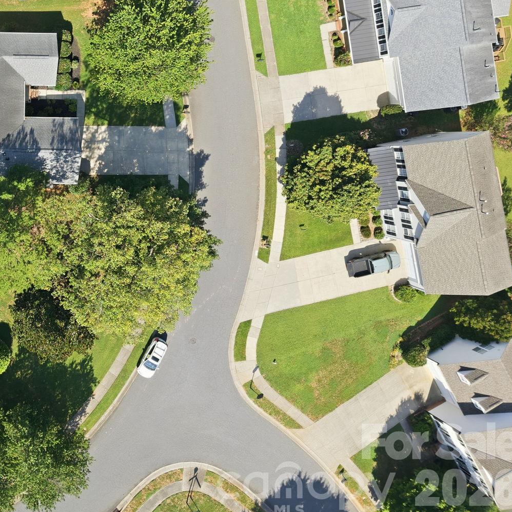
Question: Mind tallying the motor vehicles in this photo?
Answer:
3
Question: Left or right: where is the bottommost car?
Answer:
left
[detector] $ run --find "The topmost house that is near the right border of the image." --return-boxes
[339,0,509,113]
